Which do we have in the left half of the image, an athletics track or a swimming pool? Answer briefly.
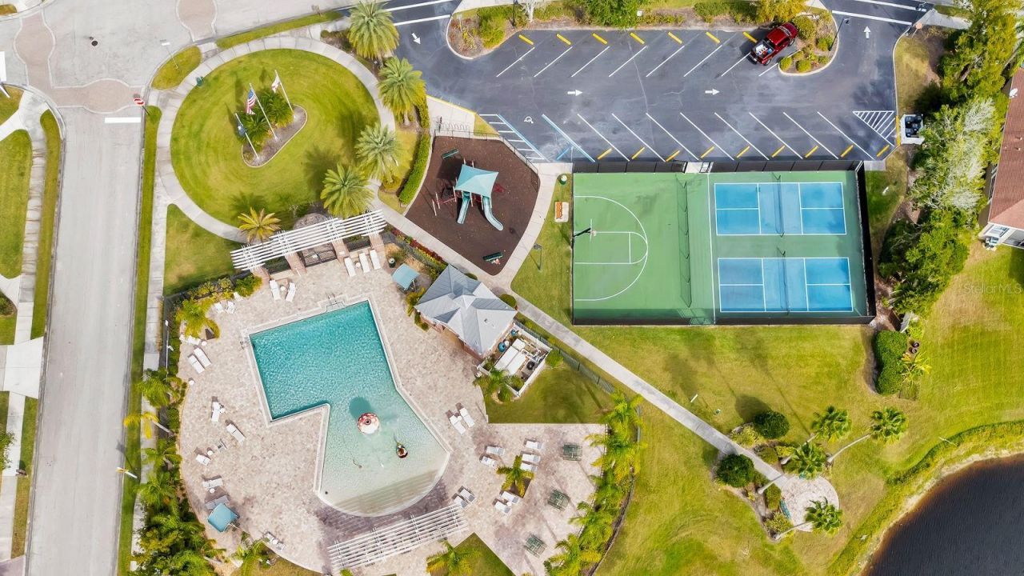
swimming pool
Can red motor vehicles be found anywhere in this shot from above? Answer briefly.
Yes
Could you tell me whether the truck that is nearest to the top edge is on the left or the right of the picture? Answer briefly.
right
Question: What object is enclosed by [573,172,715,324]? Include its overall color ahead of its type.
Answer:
green basketball court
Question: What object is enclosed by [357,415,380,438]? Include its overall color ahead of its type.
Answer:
white fountain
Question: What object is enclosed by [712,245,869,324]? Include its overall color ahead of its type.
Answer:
blue sports court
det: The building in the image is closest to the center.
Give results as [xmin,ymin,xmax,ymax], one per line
[414,265,519,364]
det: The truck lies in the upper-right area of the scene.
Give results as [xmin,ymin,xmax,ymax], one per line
[751,24,799,65]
